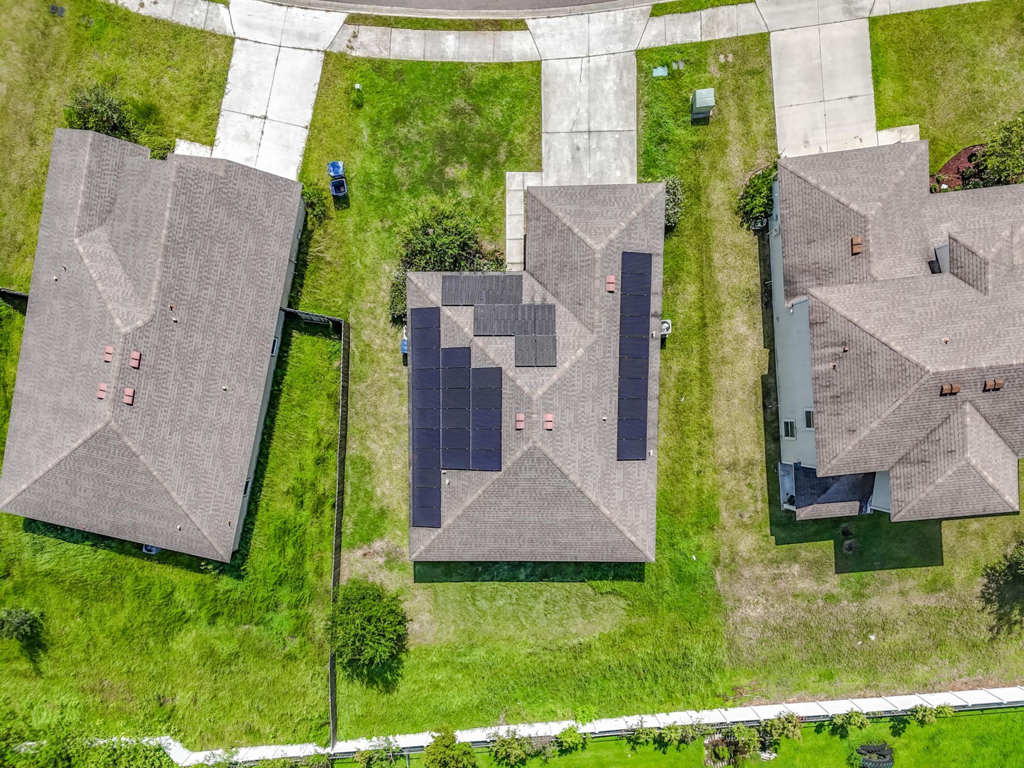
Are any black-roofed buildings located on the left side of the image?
No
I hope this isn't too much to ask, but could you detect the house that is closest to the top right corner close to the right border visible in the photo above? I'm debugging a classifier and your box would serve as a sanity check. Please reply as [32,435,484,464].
[760,139,1024,523]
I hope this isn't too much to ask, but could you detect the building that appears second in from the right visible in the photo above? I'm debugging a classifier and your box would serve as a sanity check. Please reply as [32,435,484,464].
[405,182,667,563]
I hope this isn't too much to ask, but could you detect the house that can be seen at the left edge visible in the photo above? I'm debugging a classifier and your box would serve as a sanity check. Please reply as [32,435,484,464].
[0,128,307,564]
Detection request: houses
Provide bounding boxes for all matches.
[0,128,307,564]
[760,139,1024,523]
[405,182,667,563]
